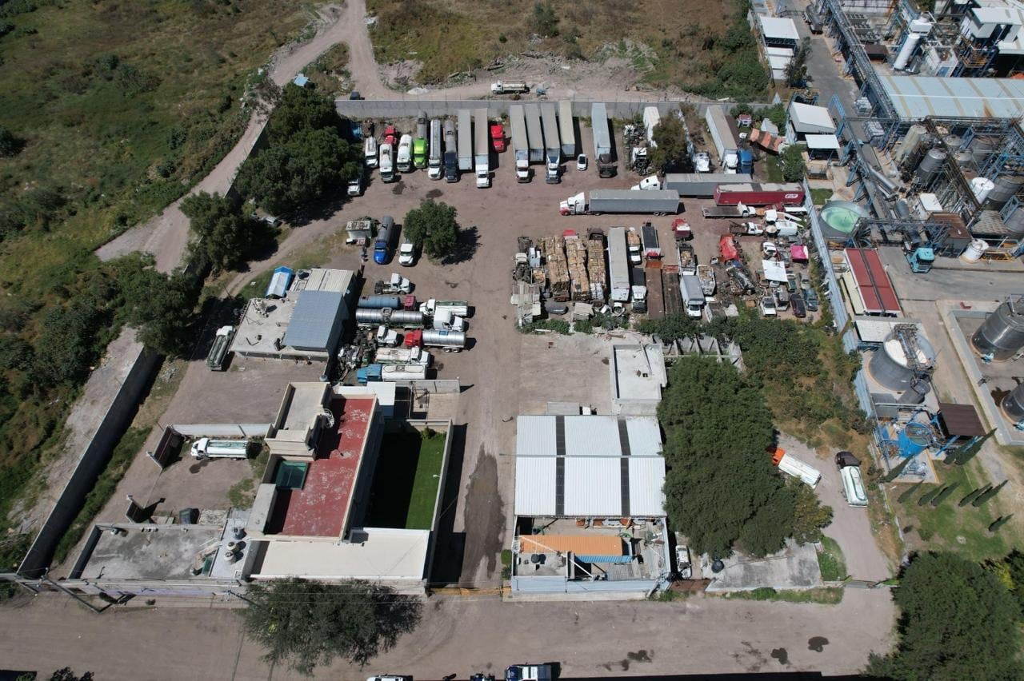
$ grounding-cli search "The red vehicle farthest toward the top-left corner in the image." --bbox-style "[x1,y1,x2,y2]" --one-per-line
[382,121,398,147]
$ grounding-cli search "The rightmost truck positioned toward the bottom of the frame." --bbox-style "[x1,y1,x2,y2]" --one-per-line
[836,450,877,508]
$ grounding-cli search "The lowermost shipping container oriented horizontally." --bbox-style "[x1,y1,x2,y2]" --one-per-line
[525,536,630,561]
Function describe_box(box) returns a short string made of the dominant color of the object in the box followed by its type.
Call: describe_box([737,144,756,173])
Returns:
blue vehicle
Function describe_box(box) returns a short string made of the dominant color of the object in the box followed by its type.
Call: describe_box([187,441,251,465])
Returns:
white truck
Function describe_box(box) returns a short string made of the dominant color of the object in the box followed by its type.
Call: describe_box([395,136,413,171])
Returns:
white vehicle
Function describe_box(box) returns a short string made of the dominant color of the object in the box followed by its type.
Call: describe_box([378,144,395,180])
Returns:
white vehicle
